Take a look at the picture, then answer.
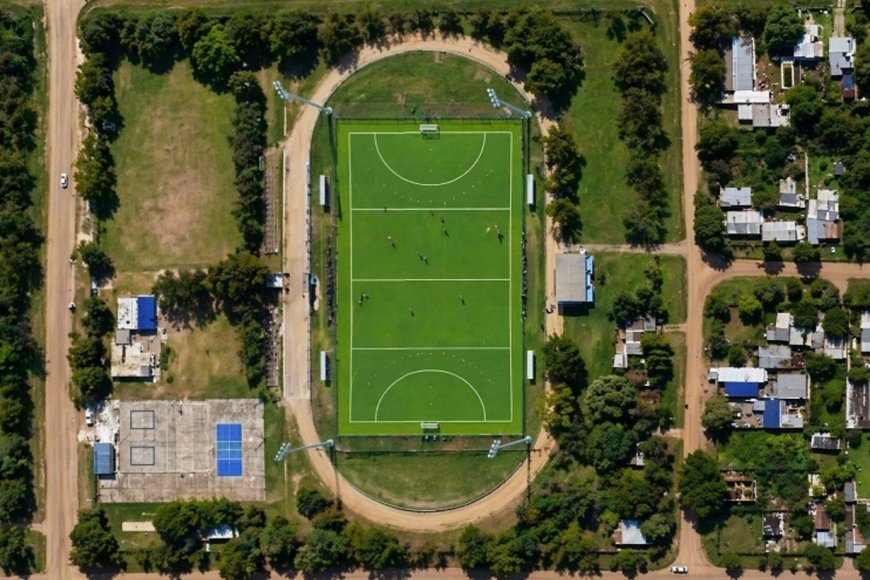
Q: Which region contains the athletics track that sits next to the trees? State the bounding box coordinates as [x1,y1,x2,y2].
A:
[285,30,564,532]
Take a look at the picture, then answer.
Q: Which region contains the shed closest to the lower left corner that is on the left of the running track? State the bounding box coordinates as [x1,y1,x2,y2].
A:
[94,442,119,475]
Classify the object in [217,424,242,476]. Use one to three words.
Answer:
tennis court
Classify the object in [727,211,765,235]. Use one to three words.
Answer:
house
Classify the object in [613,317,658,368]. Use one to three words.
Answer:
house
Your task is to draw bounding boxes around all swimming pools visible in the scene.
[782,60,794,88]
